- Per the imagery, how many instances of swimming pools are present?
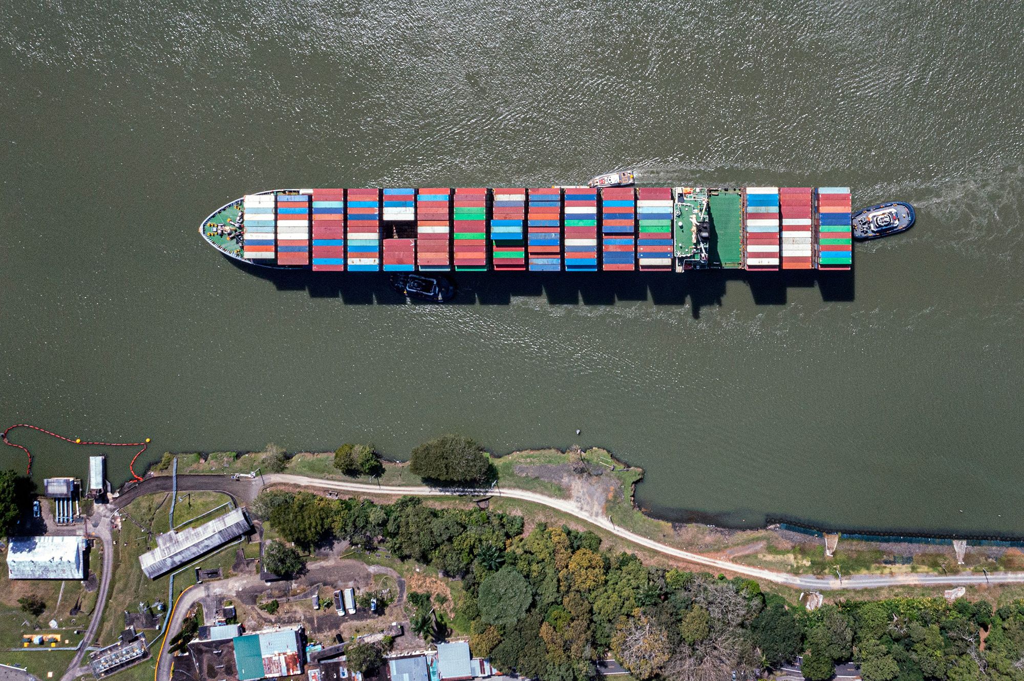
0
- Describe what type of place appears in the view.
port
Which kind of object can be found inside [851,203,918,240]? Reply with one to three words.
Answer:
boat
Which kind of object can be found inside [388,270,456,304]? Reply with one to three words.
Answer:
boat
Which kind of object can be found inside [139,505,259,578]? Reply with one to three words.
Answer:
building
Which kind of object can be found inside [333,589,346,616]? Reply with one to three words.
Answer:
vehicle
